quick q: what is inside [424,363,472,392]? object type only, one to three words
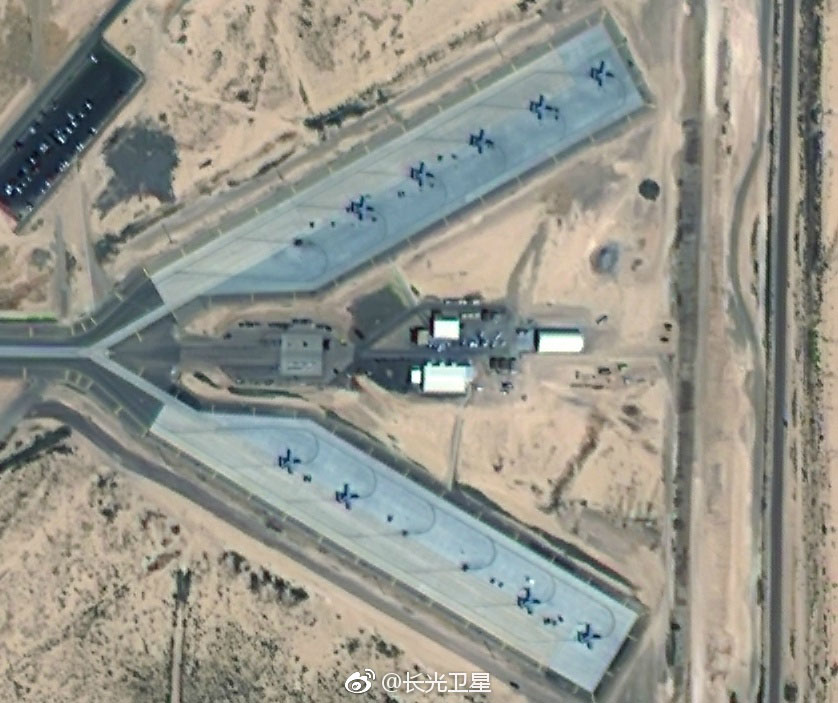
hangar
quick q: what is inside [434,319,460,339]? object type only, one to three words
hangar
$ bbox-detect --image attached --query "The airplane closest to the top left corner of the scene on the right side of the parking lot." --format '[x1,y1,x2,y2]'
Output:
[349,196,374,220]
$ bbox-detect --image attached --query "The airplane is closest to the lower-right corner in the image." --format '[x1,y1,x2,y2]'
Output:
[578,624,601,649]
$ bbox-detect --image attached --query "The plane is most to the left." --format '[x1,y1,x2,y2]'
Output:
[278,449,302,474]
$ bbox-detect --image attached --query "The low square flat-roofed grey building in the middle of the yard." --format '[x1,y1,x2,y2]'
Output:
[282,333,322,376]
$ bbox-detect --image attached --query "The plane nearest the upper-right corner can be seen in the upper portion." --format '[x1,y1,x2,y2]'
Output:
[591,61,615,86]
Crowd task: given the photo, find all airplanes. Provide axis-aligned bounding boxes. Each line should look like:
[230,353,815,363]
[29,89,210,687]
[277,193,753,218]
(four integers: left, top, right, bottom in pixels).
[349,196,374,220]
[529,94,552,119]
[578,624,601,649]
[518,589,541,615]
[410,161,434,187]
[470,128,493,154]
[591,61,615,86]
[336,484,359,509]
[278,449,302,474]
